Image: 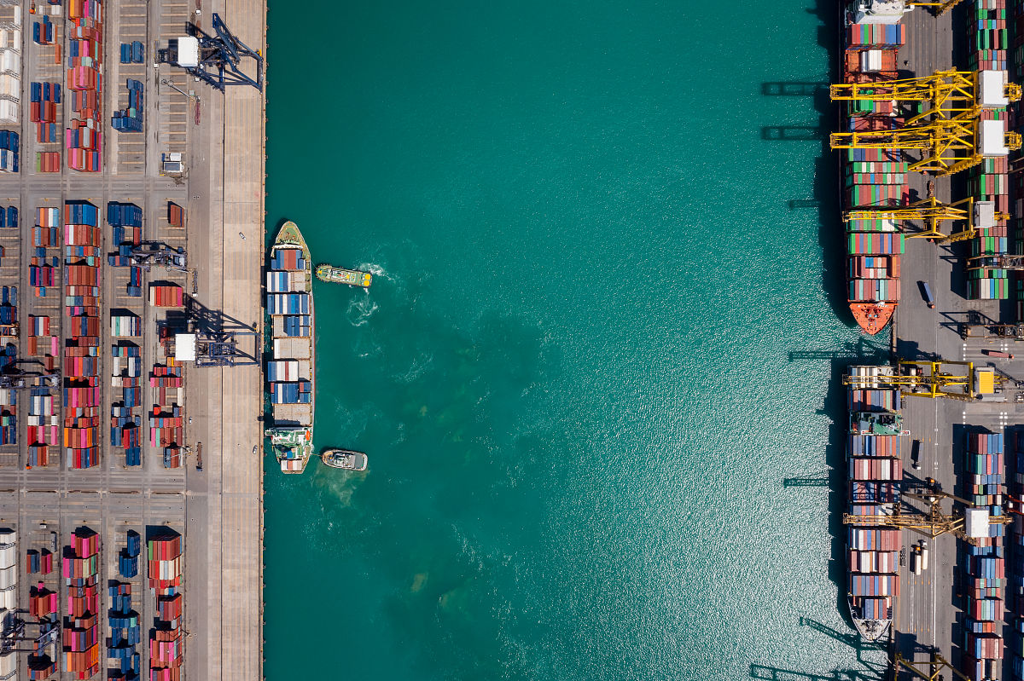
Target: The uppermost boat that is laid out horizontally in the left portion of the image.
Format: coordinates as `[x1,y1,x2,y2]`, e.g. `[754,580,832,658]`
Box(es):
[316,262,373,286]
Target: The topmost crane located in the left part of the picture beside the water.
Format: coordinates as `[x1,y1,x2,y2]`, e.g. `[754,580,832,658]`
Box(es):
[170,11,262,96]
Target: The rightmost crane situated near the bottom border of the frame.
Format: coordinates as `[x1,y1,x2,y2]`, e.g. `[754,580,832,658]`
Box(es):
[898,652,970,681]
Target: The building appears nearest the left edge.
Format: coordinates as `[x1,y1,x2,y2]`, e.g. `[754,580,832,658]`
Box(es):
[160,151,184,175]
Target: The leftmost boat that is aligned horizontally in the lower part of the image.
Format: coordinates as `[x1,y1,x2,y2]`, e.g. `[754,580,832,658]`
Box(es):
[321,450,369,471]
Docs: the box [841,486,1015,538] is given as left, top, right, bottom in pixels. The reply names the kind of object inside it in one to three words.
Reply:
container crane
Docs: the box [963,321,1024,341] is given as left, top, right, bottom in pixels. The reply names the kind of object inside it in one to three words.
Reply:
container crane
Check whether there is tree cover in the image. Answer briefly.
No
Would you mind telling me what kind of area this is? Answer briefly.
port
